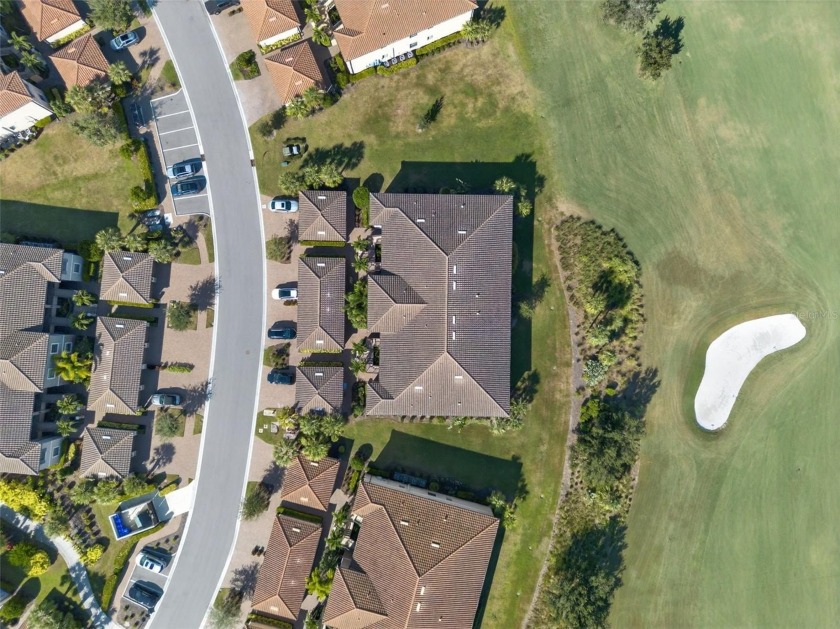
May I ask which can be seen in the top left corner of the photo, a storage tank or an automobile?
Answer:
automobile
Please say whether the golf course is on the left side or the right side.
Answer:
right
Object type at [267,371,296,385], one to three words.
vehicle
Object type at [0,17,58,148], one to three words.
house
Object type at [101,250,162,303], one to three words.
building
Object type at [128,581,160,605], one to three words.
car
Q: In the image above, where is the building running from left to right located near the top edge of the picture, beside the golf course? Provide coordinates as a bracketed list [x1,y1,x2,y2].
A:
[321,0,479,72]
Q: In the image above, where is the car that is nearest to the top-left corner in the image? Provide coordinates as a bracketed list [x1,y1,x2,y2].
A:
[112,32,141,52]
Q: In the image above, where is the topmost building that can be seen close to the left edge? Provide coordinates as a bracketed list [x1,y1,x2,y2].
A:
[16,0,89,43]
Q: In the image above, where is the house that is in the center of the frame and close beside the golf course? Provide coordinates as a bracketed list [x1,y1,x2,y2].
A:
[365,192,514,417]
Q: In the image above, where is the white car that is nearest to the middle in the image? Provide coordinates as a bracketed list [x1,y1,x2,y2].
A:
[272,287,298,301]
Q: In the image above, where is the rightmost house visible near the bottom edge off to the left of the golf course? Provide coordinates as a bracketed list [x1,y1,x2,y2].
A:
[320,472,500,629]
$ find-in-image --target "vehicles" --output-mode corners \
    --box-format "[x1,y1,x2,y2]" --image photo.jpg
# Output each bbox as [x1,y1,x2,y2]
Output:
[207,0,239,16]
[267,371,296,385]
[152,393,185,406]
[172,180,205,195]
[168,164,199,180]
[269,327,298,340]
[128,581,160,605]
[269,199,299,213]
[112,32,141,52]
[136,550,168,574]
[272,287,298,301]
